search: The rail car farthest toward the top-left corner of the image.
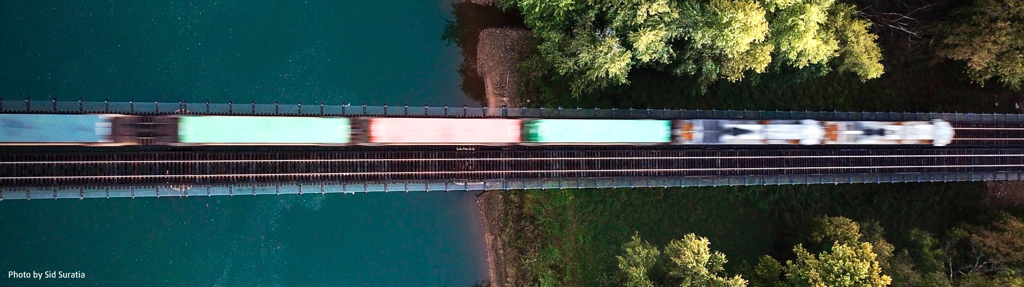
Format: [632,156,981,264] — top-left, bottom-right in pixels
[0,111,152,144]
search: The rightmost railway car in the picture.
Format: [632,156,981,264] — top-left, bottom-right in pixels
[813,120,947,146]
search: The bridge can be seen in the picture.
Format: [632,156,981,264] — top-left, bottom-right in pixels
[0,96,1024,201]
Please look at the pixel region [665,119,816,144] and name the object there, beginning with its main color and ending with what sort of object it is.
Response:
white rail car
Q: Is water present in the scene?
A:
Yes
